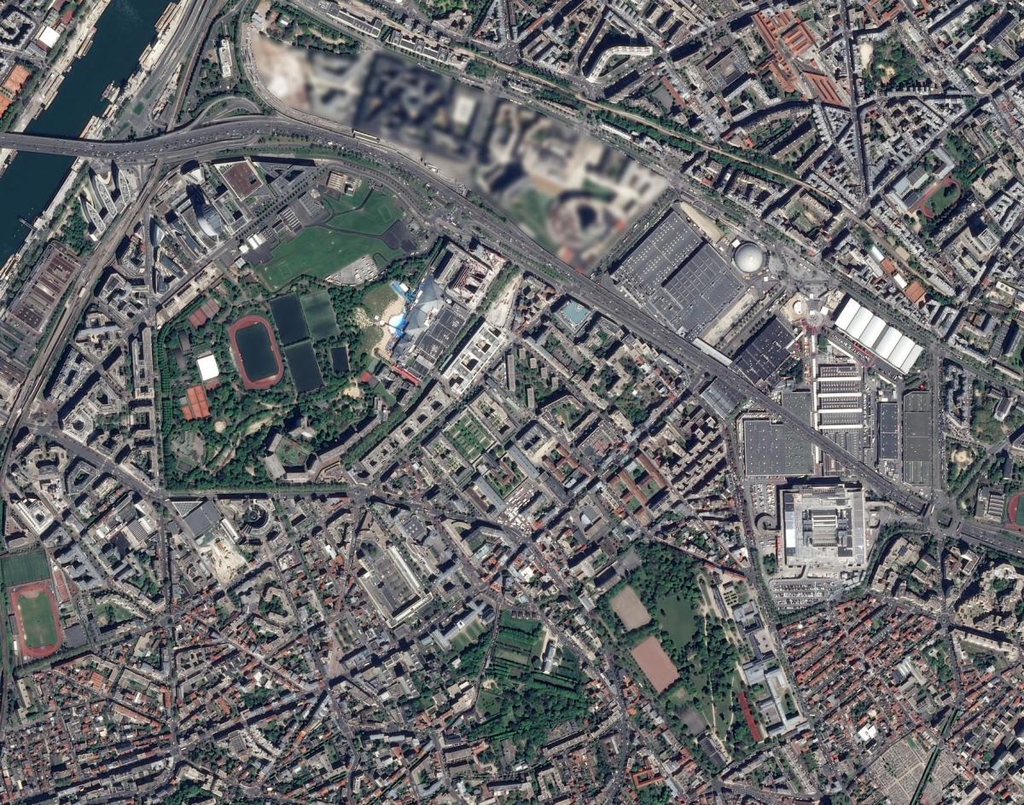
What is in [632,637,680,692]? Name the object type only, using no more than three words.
sports field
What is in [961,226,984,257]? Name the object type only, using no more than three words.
building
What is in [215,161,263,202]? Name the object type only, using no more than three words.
building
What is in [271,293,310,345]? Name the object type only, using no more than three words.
soccer field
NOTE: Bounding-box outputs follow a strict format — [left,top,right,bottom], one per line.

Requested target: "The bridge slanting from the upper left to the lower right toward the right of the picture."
[706,358,925,513]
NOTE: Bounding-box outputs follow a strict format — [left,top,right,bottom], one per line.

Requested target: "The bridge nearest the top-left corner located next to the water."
[0,130,139,157]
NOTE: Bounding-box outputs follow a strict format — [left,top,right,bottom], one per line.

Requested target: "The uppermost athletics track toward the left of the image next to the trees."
[228,315,283,389]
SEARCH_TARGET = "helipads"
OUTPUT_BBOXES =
[244,176,412,293]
